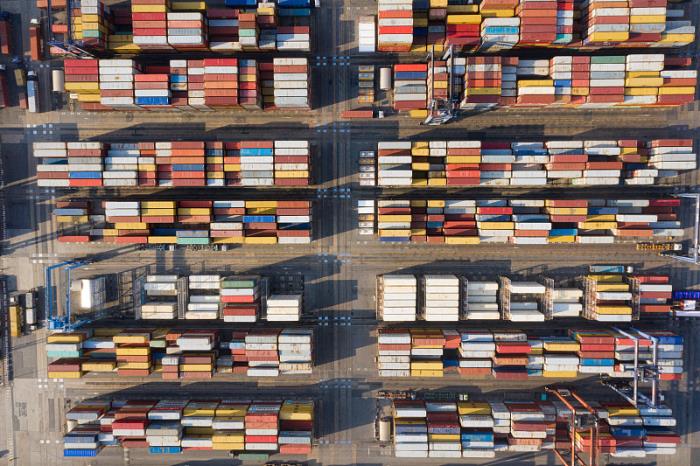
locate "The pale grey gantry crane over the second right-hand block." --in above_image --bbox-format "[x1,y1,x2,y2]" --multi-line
[419,45,457,128]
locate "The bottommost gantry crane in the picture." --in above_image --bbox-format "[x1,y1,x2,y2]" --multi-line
[546,383,597,466]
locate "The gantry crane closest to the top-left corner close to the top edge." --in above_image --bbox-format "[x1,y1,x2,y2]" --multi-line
[42,0,103,60]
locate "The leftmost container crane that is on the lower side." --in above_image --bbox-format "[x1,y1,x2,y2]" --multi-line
[44,258,102,336]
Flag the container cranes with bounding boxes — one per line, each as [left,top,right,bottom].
[656,190,700,264]
[419,45,457,128]
[546,383,597,466]
[42,0,103,60]
[600,320,659,406]
[44,258,102,336]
